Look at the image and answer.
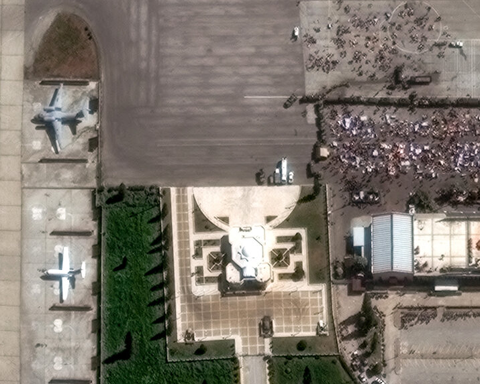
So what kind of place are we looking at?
airport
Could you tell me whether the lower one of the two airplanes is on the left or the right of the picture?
left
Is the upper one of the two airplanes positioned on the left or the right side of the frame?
left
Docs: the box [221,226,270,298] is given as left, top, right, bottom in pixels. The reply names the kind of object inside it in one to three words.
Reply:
building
